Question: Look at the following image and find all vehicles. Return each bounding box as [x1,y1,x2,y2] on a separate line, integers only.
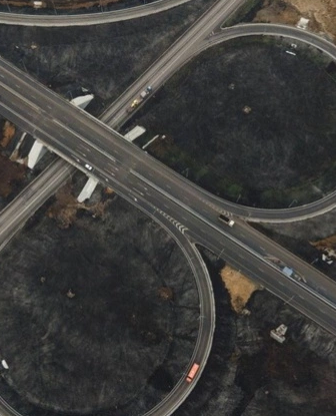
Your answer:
[274,260,305,283]
[219,213,235,226]
[186,363,200,383]
[132,97,141,106]
[126,84,153,112]
[83,163,92,170]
